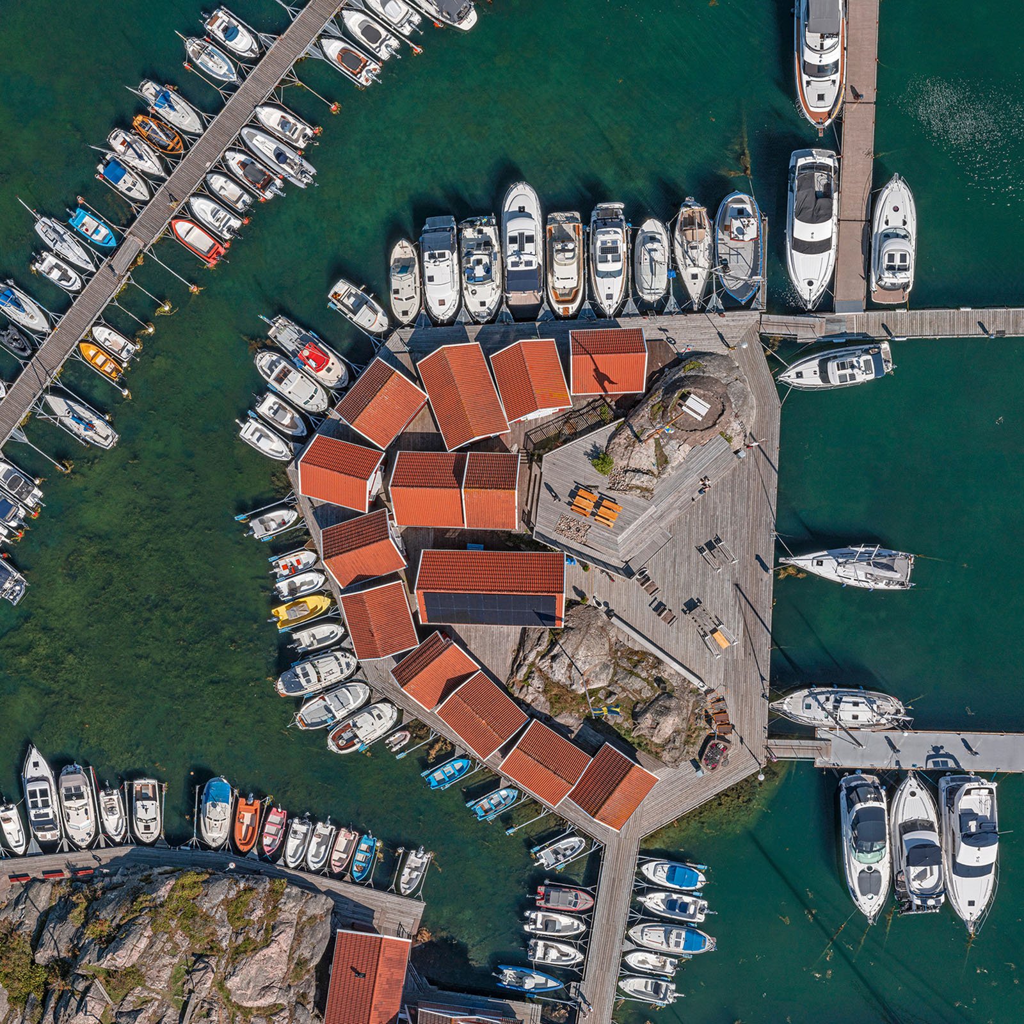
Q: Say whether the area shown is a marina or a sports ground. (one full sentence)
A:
This image shows a marina.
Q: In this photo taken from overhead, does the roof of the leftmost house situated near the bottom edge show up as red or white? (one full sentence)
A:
The color of the roof of the leftmost house situated near the bottom edge is red.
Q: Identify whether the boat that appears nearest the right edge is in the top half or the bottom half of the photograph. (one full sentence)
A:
You can find the boat that appears nearest the right edge in the bottom half.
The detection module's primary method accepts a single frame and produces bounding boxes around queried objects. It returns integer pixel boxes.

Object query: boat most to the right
[935,770,1002,936]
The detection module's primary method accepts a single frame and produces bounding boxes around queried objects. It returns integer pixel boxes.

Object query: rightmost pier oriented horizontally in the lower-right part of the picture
[814,728,1024,772]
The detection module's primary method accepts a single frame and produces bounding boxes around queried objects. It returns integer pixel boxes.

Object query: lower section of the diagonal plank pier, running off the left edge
[0,259,136,452]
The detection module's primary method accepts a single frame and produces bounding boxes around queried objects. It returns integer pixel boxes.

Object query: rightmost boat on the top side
[866,170,921,309]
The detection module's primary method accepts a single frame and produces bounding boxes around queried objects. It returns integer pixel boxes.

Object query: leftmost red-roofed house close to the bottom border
[321,928,413,1024]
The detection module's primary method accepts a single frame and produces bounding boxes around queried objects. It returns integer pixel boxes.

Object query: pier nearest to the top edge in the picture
[842,0,879,103]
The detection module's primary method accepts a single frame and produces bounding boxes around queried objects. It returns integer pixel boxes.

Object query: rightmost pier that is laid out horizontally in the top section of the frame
[854,308,1024,339]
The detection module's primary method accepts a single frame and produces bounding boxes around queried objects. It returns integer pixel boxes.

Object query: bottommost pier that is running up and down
[575,838,639,1024]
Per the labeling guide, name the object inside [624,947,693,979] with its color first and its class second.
white boat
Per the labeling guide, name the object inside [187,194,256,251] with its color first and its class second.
white boat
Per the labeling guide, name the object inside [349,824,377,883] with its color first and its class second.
blue boat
